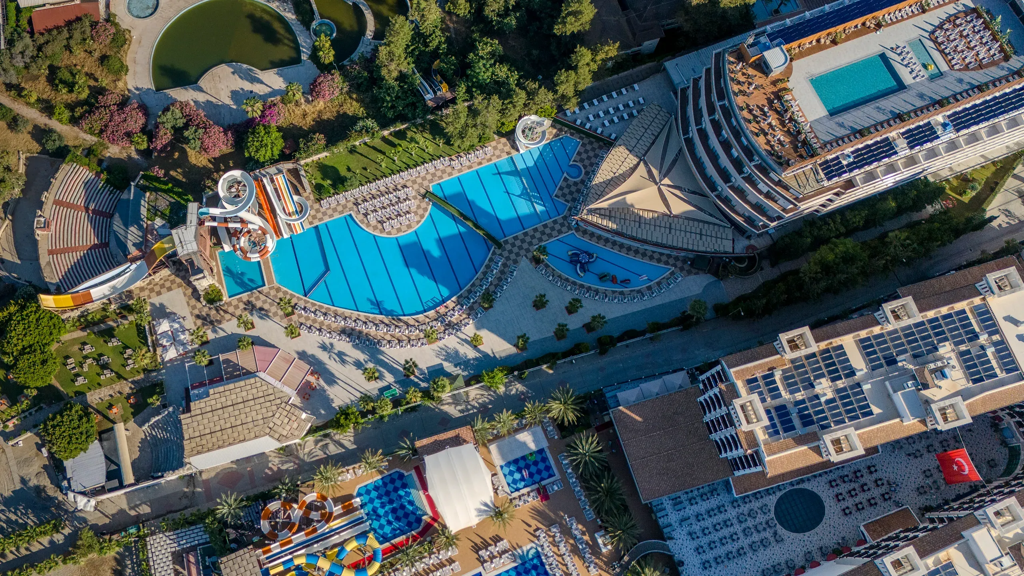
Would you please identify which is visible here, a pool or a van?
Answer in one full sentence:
It is a pool that can be seen here.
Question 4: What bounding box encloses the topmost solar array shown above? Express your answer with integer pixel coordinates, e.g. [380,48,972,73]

[771,0,904,47]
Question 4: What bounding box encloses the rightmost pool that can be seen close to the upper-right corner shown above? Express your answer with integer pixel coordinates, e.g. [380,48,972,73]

[907,38,943,80]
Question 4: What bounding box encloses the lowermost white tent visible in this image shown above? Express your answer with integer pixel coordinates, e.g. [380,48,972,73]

[424,442,496,532]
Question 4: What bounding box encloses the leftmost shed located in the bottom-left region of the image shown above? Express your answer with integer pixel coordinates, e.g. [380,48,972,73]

[64,440,112,492]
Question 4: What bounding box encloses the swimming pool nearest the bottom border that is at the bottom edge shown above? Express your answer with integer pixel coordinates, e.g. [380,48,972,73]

[473,551,555,576]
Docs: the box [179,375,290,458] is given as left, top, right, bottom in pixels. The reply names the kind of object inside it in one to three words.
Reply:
building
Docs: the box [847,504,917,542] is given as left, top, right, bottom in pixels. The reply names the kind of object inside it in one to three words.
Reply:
building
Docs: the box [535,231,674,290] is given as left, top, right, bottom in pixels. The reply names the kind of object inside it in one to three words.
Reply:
swimming pool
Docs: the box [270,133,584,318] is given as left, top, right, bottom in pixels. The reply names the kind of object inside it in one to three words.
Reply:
swimming pool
